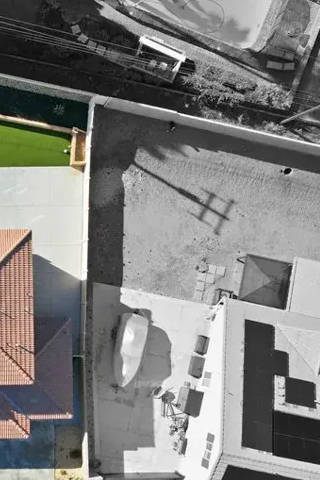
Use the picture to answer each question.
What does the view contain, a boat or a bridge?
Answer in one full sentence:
Of the two, only a boat appears.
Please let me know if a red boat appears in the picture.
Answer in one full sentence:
No, the picture doesn't show any red boat.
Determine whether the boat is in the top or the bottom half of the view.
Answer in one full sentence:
You can find the boat in the bottom half.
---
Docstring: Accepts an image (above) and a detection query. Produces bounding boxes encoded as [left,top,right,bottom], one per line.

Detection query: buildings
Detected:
[181,298,320,480]
[0,228,73,440]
